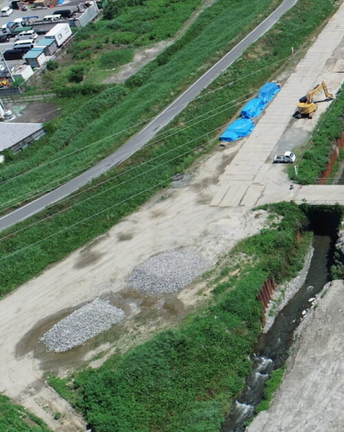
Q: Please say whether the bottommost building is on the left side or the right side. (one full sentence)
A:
It is on the left.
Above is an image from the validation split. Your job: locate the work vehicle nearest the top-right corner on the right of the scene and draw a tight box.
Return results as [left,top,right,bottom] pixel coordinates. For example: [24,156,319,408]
[289,71,335,119]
